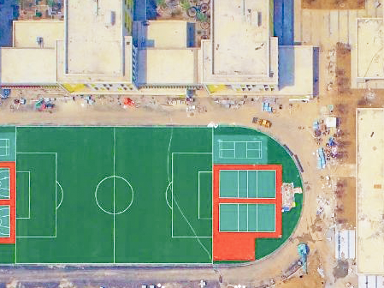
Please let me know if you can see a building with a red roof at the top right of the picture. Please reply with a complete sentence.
No, I see no building with a red roof at the top right of the picture.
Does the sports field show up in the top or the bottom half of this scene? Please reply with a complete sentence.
Seen from above, the sports field lies in the bottom half of the view.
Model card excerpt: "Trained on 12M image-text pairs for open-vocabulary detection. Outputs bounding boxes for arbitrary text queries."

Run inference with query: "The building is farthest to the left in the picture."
[0,20,63,95]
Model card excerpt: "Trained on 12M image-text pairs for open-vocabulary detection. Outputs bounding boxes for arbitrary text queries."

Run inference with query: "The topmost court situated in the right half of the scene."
[213,135,267,164]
